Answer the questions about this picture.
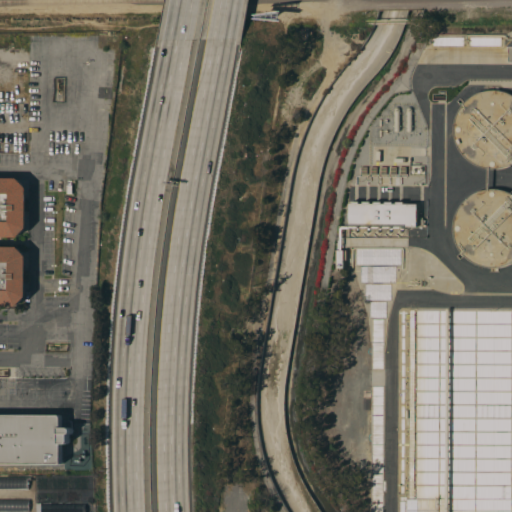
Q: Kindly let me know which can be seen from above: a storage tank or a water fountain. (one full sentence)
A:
There is a storage tank in the scene.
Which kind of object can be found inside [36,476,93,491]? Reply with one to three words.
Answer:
house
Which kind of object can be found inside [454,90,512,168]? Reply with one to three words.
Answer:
storage tank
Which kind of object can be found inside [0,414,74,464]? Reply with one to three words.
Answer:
building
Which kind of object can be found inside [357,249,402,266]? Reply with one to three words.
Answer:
shed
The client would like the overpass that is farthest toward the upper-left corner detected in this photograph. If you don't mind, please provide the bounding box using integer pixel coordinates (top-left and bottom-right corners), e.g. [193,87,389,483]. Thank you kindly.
[155,0,248,48]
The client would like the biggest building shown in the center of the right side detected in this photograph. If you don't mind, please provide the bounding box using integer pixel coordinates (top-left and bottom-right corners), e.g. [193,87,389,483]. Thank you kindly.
[348,202,416,226]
